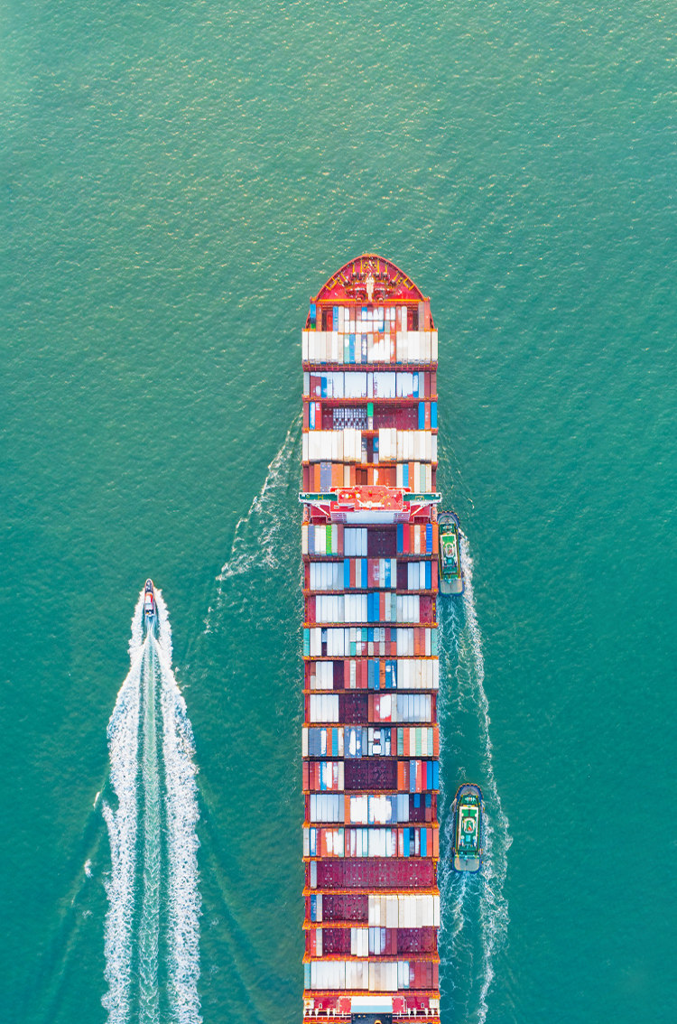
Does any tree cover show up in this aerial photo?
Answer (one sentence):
No, no tree cover is visible.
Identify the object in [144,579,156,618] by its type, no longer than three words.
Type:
boat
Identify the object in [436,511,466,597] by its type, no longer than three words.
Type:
boat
